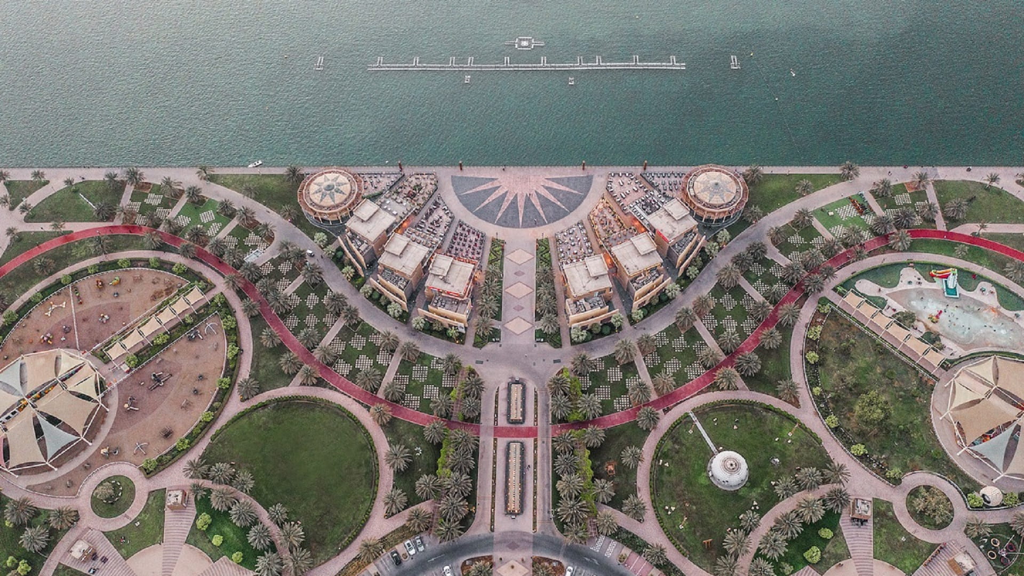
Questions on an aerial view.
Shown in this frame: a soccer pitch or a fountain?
fountain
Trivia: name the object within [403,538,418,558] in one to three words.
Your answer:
car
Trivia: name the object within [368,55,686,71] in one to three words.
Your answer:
pier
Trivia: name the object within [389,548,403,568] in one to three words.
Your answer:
car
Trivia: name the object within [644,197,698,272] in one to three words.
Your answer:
building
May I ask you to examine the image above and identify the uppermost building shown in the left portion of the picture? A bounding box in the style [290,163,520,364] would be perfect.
[298,166,365,230]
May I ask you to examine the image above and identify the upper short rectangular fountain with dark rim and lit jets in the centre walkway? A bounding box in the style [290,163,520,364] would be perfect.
[507,381,526,423]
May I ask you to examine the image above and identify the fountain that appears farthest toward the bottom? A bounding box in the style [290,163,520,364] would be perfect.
[504,441,524,513]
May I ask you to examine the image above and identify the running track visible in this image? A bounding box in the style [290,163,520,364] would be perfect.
[0,224,1024,438]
